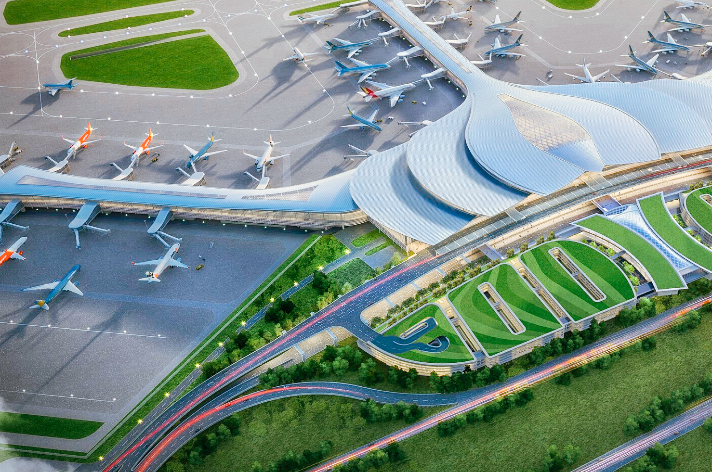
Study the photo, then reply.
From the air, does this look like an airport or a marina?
airport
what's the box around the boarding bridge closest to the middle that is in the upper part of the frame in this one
[343,143,386,160]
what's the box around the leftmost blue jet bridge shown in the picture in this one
[0,203,32,245]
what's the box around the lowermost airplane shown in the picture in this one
[25,266,83,309]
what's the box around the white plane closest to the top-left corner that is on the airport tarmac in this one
[59,122,106,155]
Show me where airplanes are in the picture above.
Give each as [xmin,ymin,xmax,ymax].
[284,47,322,63]
[296,12,334,24]
[337,59,389,79]
[0,239,27,266]
[241,136,293,172]
[569,59,604,82]
[485,37,523,56]
[25,266,83,309]
[485,13,522,32]
[185,135,226,168]
[122,129,168,160]
[339,105,382,132]
[129,245,186,282]
[621,47,658,76]
[664,12,705,31]
[361,82,414,103]
[440,6,473,20]
[647,32,691,53]
[59,122,106,155]
[44,80,76,95]
[675,0,707,8]
[325,38,371,54]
